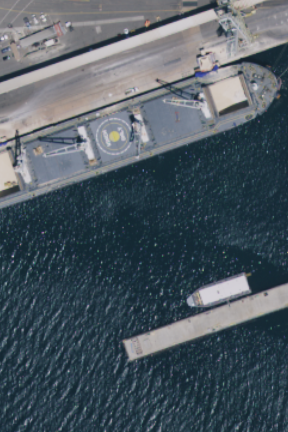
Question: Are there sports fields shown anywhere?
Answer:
No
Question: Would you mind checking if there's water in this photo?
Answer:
Yes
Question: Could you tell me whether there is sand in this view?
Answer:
No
